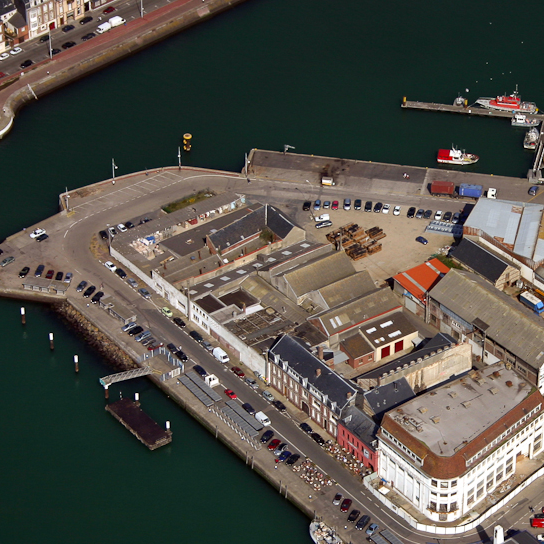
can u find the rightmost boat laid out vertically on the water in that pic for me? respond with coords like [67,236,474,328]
[525,128,538,150]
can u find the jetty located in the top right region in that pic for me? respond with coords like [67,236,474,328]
[402,101,544,169]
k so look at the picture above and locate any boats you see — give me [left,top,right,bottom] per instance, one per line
[455,95,463,108]
[307,520,336,544]
[525,128,538,150]
[511,114,538,127]
[474,88,539,115]
[437,146,481,165]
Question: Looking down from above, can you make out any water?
Yes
